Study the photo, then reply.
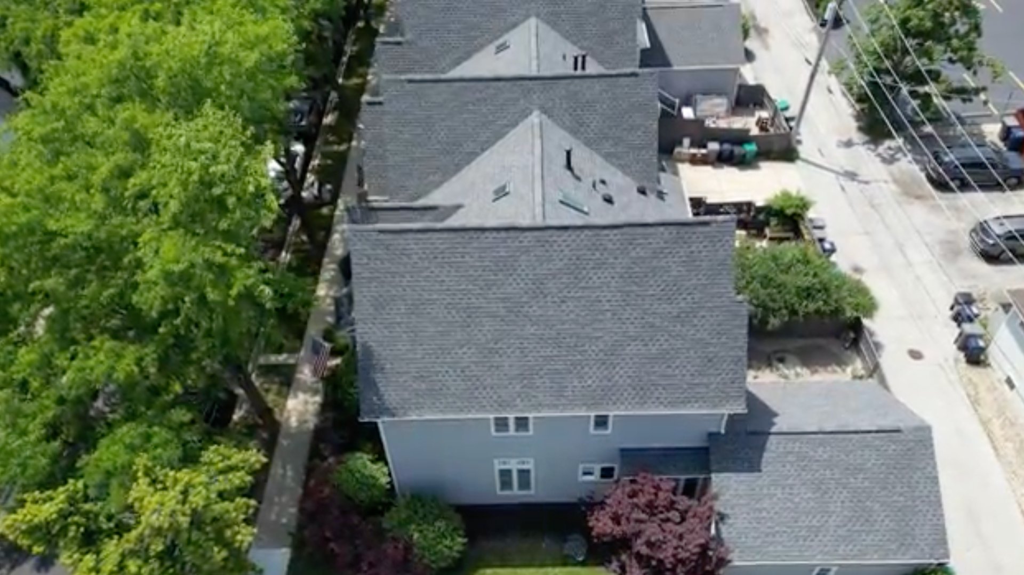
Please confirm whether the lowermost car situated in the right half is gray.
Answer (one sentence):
Yes, the lowermost car situated in the right half is indeed gray.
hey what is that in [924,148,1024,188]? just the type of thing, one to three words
car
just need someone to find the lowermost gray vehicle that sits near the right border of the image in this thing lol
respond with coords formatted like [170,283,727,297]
[967,218,1024,264]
